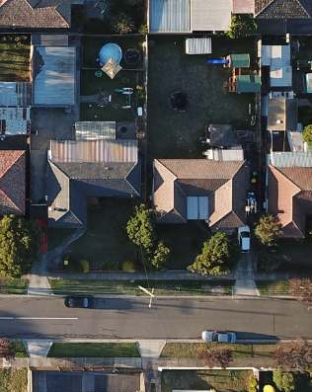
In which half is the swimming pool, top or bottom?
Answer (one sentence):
The swimming pool is in the top half of the image.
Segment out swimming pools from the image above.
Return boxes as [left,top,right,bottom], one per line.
[100,42,124,65]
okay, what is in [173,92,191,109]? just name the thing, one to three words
trampoline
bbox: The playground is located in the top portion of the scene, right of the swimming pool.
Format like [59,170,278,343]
[207,54,264,92]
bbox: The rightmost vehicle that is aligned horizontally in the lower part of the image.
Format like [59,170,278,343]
[198,328,235,342]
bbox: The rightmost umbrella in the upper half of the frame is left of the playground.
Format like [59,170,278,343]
[101,59,120,78]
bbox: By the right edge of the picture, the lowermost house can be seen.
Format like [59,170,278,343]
[261,131,312,239]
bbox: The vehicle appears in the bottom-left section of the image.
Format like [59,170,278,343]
[63,295,94,310]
